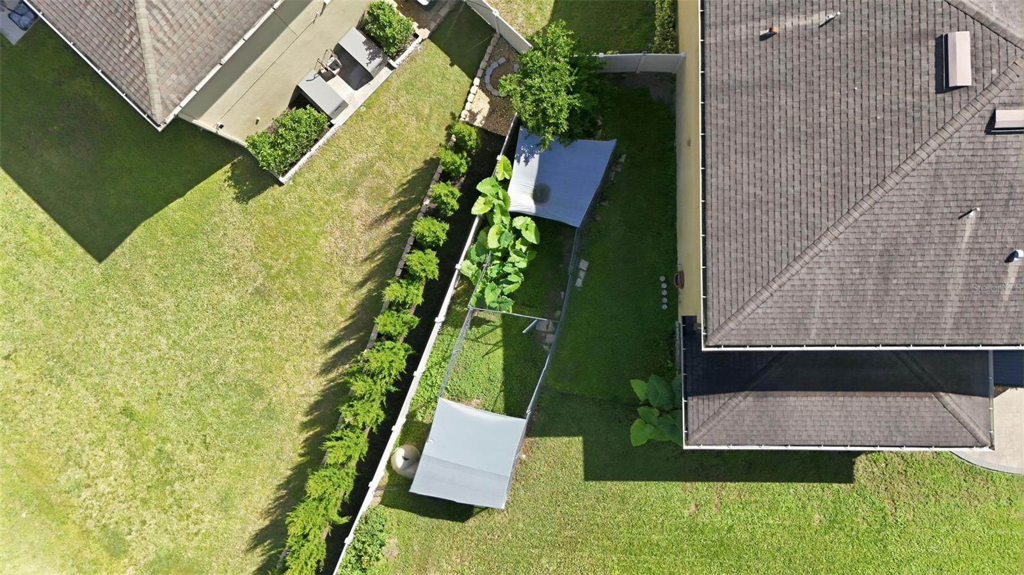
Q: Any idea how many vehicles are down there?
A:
0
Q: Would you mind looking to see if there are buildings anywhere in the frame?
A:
Yes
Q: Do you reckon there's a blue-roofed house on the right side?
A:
No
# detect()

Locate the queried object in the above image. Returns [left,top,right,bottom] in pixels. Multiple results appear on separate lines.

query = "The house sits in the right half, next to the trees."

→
[677,0,1024,452]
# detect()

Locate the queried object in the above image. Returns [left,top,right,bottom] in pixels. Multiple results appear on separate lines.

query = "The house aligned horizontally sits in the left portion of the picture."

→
[23,0,384,149]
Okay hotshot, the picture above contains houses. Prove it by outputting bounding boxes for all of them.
[23,0,384,149]
[677,0,1024,452]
